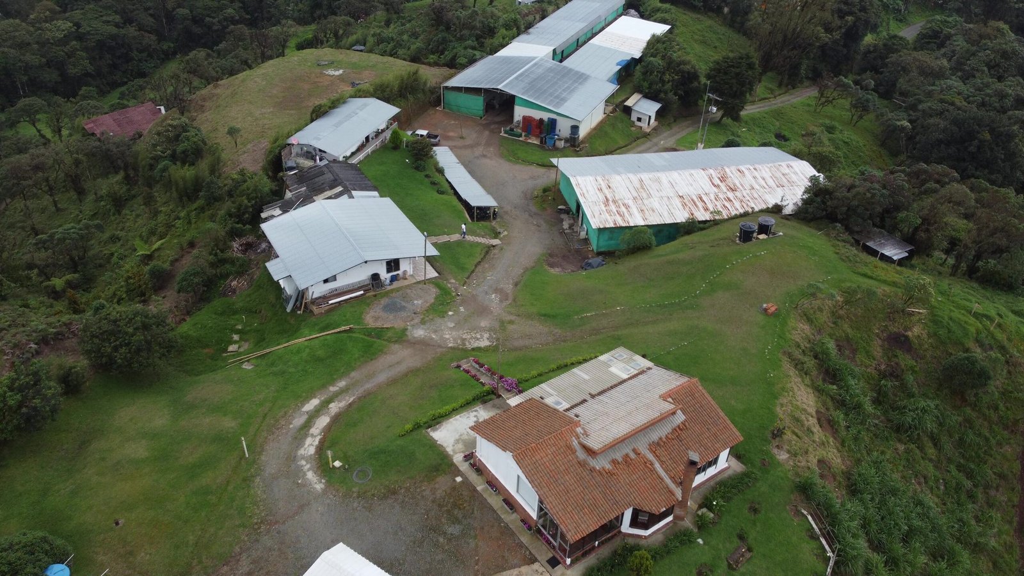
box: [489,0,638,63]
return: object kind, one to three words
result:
building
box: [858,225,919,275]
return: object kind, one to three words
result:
shed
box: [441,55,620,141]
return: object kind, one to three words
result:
barn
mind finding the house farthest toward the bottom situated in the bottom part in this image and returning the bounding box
[468,347,744,568]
